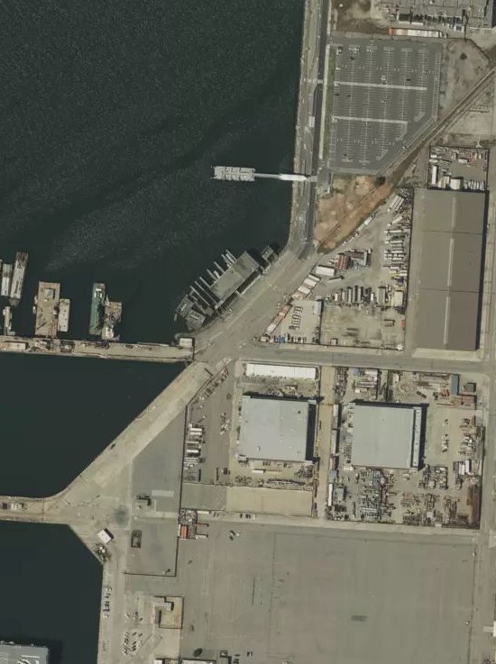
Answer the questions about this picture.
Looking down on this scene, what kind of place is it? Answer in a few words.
port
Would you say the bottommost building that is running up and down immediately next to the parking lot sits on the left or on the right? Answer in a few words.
right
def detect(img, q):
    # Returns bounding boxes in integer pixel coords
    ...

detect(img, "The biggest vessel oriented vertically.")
[34,281,60,337]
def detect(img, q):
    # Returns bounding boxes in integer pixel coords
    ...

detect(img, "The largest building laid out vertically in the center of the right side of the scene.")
[416,191,486,350]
